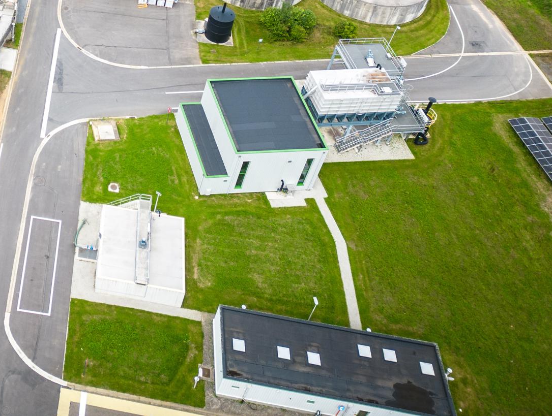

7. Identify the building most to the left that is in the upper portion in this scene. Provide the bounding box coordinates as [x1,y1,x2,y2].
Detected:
[176,76,328,198]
